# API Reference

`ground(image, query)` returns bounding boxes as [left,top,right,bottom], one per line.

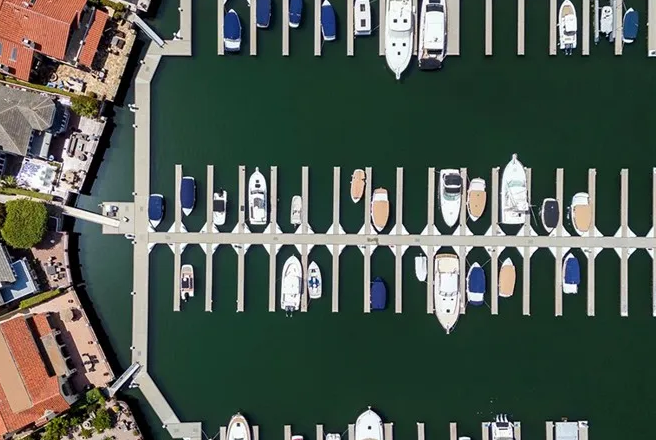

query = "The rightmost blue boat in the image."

[620,0,639,46]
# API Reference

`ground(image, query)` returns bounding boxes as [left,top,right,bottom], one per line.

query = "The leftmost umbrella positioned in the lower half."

[62,307,76,321]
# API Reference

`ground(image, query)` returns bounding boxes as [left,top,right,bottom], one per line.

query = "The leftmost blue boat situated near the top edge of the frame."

[224,3,249,52]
